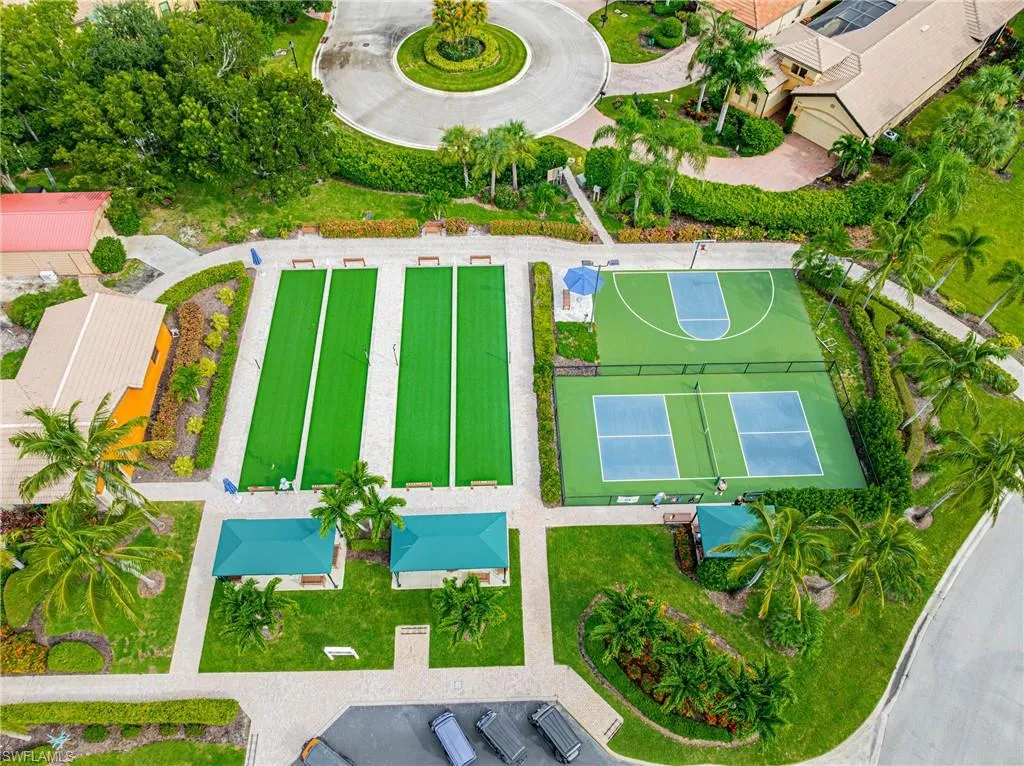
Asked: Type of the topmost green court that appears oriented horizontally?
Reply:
basketball court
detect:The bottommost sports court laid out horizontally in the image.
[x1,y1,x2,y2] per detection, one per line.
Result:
[557,370,867,505]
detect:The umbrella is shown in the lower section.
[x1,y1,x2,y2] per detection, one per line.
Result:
[221,477,245,506]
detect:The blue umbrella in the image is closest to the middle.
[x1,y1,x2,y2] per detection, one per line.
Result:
[562,267,602,305]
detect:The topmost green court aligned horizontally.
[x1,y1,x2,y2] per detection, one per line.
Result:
[600,268,826,375]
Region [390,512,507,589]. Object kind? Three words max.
building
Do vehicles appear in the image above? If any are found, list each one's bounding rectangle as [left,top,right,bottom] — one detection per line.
[433,708,478,766]
[475,708,527,766]
[529,702,581,766]
[308,740,357,766]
